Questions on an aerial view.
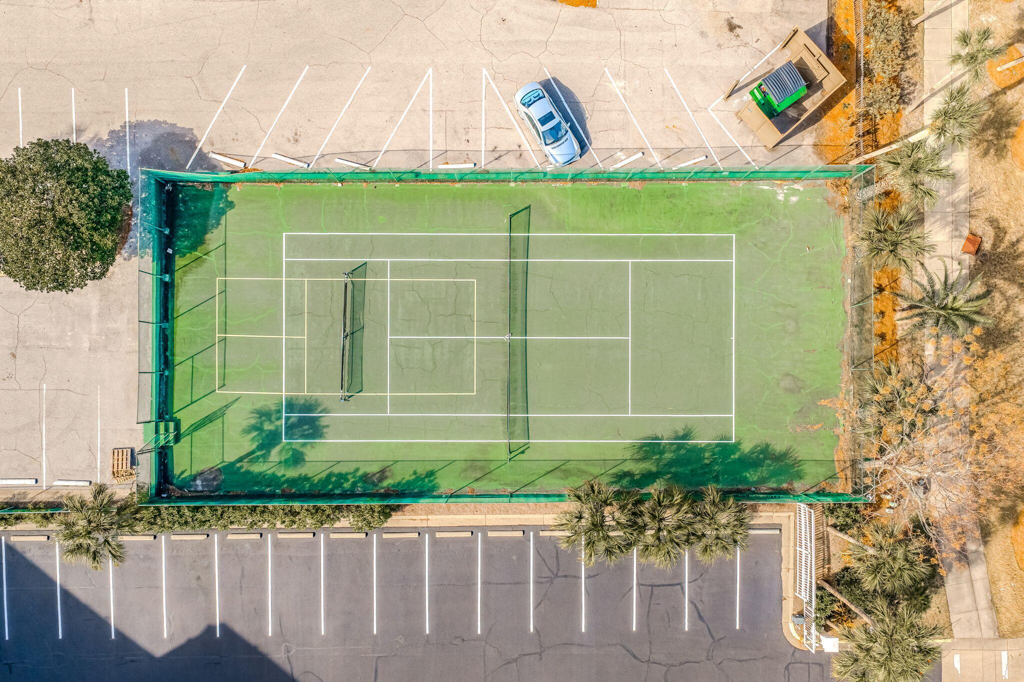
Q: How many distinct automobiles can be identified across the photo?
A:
one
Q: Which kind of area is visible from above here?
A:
sports ground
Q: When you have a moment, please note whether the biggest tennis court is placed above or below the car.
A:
below it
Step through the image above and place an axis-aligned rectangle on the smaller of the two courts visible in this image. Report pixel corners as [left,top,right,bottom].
[216,278,476,395]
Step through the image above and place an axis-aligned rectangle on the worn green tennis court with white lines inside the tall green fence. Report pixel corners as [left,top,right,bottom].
[160,181,856,497]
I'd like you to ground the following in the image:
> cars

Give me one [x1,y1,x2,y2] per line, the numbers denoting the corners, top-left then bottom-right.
[515,80,580,169]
